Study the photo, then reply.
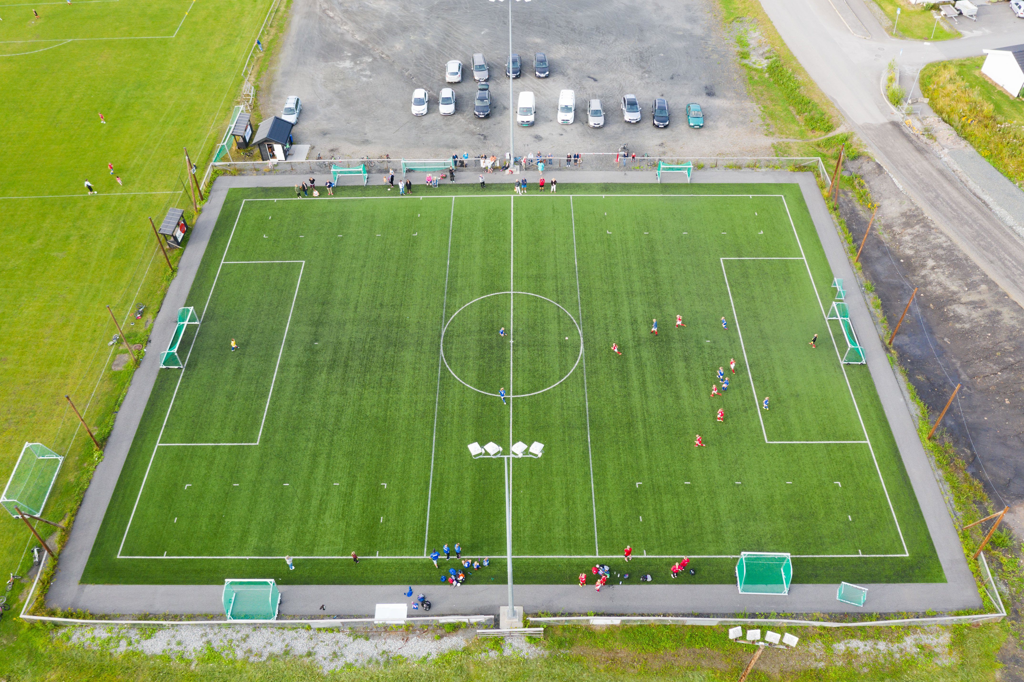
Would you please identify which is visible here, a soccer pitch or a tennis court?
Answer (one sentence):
The one in the frame is a soccer pitch.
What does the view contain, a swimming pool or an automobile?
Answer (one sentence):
This aerial view contains an automobile.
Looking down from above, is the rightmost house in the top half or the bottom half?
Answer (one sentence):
You can find the rightmost house in the top half.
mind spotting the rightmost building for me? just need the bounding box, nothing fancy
[982,46,1024,97]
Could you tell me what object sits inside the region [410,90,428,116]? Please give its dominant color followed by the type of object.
white car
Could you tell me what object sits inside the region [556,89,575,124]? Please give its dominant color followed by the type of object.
white vehicle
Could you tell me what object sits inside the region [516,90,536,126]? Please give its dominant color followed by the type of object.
white vehicle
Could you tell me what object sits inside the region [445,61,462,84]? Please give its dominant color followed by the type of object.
white car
